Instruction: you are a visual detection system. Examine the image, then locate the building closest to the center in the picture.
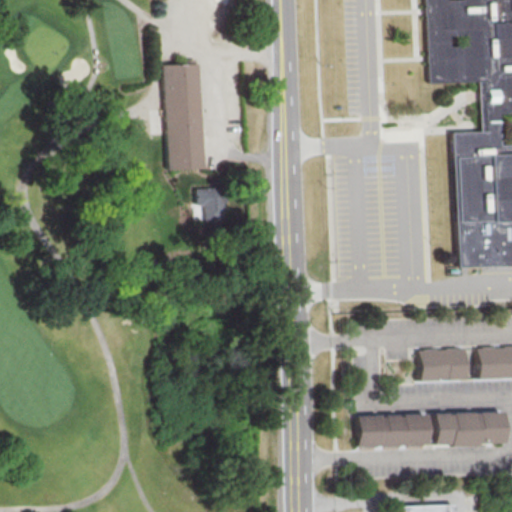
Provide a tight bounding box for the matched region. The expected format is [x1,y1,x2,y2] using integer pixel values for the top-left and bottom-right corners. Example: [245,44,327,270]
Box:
[190,188,230,221]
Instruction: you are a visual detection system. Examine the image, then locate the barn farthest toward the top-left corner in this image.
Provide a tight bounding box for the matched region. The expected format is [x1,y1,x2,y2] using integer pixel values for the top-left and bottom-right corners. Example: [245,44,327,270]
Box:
[164,64,204,172]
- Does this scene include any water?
No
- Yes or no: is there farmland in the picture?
No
